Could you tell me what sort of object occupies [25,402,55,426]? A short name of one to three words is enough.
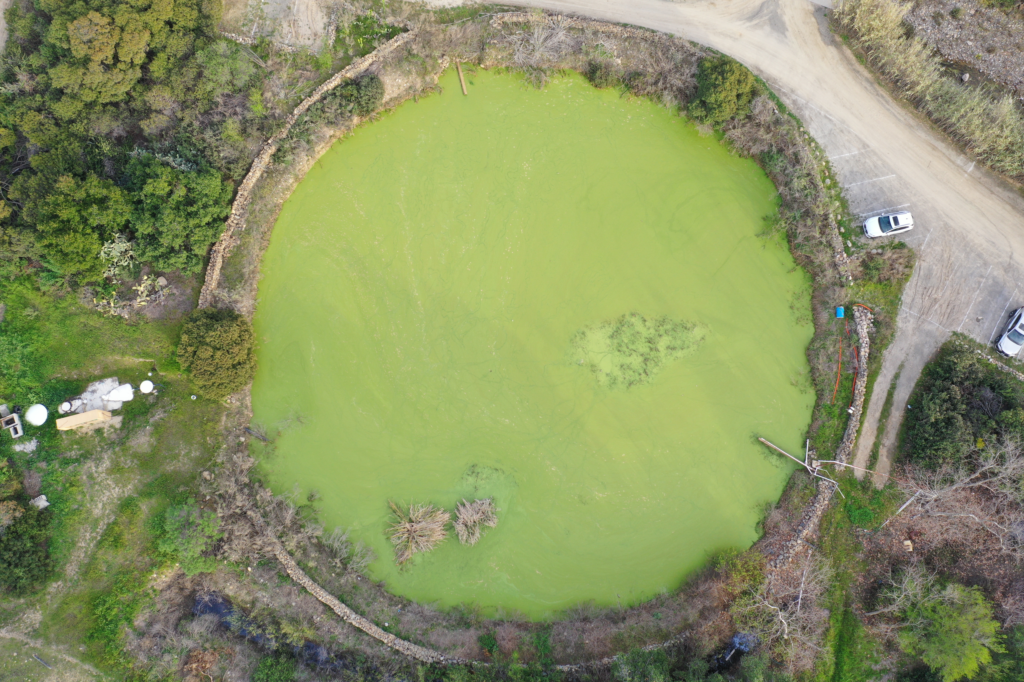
water tank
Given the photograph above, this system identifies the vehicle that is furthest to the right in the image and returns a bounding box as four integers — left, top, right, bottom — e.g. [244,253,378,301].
[996,305,1024,356]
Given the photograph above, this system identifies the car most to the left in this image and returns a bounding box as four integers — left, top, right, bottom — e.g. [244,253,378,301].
[861,208,918,239]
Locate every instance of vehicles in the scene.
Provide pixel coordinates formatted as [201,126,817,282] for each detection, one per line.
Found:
[996,305,1024,356]
[861,208,918,239]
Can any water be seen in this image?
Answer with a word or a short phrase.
Yes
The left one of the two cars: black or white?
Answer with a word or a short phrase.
white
